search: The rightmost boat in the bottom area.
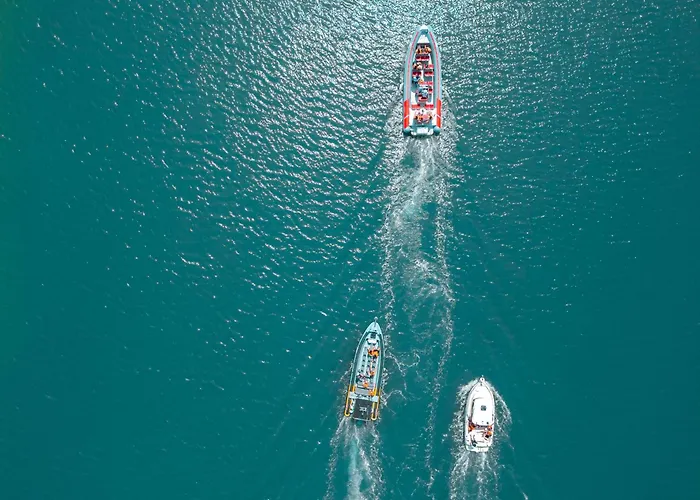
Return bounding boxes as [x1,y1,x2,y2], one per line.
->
[464,376,496,453]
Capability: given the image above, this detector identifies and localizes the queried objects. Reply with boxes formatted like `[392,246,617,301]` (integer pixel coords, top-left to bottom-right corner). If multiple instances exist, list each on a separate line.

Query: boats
[464,376,496,453]
[345,319,384,422]
[403,25,442,137]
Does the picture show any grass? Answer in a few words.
No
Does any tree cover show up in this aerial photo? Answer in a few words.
No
